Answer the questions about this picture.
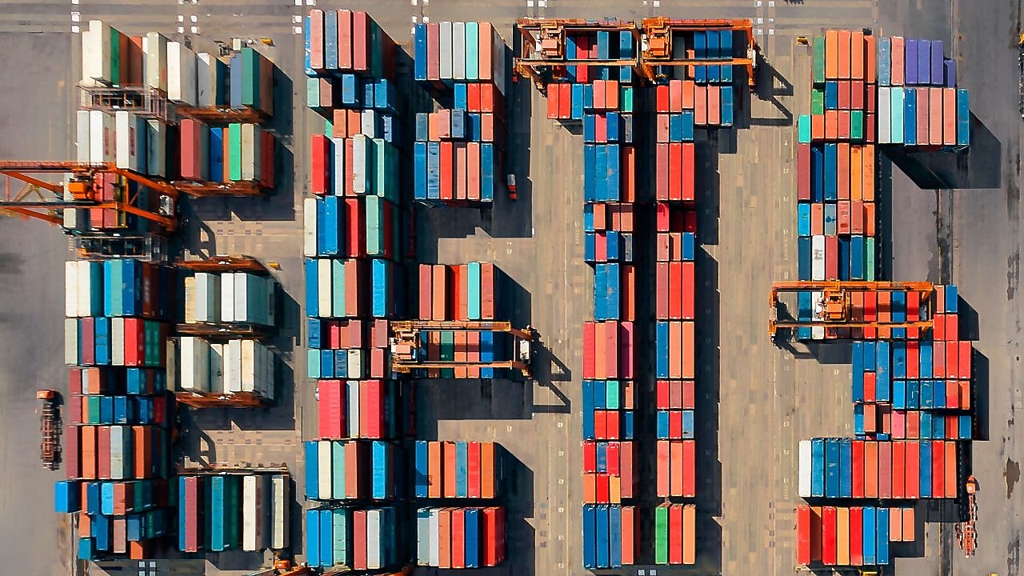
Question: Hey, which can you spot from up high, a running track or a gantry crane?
gantry crane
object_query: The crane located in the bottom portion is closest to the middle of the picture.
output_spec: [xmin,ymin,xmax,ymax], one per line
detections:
[388,318,535,382]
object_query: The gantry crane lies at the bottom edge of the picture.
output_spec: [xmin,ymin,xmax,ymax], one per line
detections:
[260,553,432,576]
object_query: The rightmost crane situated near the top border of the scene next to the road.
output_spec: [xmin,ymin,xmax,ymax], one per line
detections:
[641,15,758,106]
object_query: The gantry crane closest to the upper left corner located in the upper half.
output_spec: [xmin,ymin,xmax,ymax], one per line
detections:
[0,158,175,238]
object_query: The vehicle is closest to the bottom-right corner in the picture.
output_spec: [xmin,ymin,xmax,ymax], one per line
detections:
[963,477,978,555]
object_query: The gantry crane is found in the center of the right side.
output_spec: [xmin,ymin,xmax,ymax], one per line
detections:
[769,278,934,346]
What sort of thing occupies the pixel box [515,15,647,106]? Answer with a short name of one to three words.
container crane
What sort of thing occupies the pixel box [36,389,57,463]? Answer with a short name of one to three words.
truck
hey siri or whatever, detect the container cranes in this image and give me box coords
[388,318,535,382]
[260,553,432,576]
[769,278,934,346]
[0,158,175,238]
[641,15,758,106]
[515,15,647,106]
